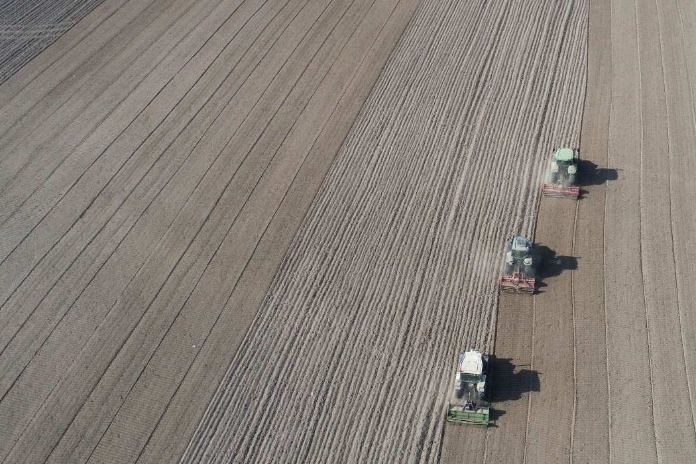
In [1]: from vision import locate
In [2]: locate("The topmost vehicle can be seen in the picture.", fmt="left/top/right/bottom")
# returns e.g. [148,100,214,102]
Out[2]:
[550,147,580,183]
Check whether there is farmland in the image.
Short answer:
Yes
